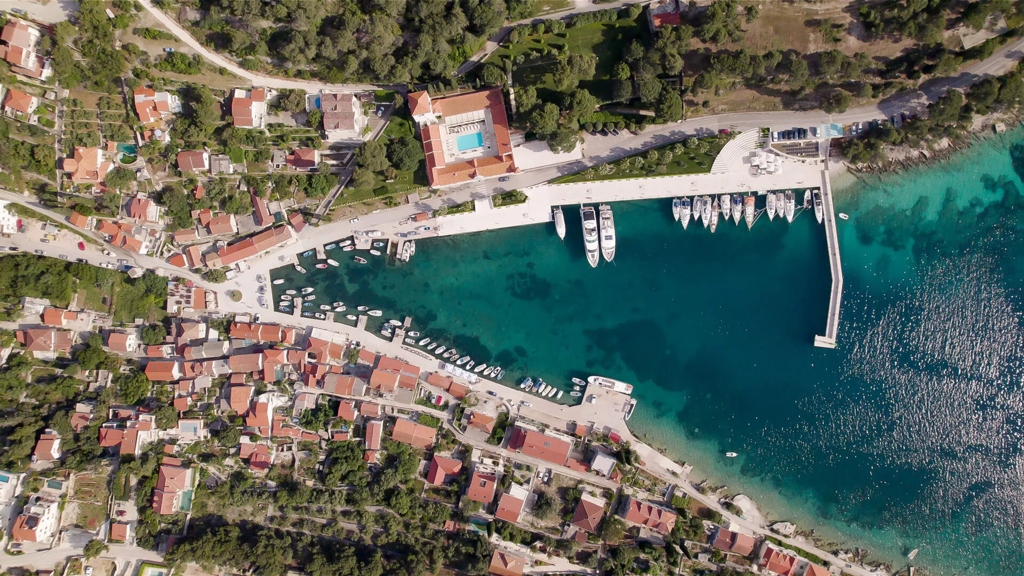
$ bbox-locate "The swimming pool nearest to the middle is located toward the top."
[455,131,485,152]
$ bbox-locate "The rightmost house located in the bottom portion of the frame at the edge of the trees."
[755,540,831,576]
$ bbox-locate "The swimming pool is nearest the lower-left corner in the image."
[46,479,66,491]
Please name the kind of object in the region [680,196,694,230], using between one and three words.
boat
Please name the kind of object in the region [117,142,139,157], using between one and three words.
swimming pool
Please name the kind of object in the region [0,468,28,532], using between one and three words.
house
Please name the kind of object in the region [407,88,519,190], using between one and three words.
building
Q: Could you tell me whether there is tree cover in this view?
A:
Yes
